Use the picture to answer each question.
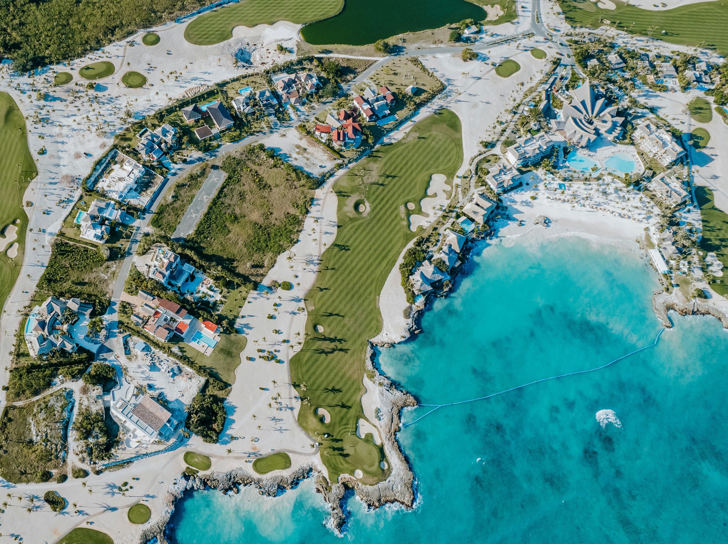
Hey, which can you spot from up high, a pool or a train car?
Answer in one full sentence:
This aerial view contains a pool.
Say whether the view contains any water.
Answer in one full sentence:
Yes, some water is visible.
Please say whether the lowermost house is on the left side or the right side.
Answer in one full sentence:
The lowermost house is on the left side of the image.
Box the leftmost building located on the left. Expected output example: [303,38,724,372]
[26,296,93,358]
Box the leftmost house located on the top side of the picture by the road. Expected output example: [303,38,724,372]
[97,159,147,204]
